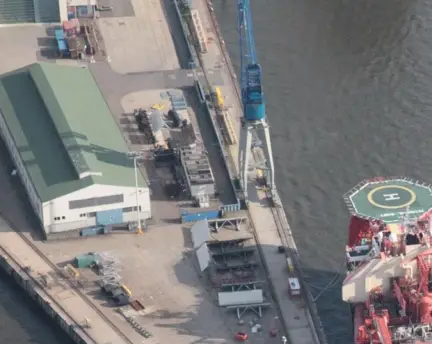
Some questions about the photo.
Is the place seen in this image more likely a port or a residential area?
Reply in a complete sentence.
What you see here is a port.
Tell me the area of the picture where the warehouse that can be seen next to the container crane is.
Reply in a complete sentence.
The warehouse that can be seen next to the container crane is located in the left region of the scene.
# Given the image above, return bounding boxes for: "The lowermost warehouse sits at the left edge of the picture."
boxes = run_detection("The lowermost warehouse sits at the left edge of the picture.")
[0,54,152,239]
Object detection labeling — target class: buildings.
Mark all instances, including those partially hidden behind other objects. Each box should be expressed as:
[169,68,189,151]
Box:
[0,0,71,26]
[0,54,152,239]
